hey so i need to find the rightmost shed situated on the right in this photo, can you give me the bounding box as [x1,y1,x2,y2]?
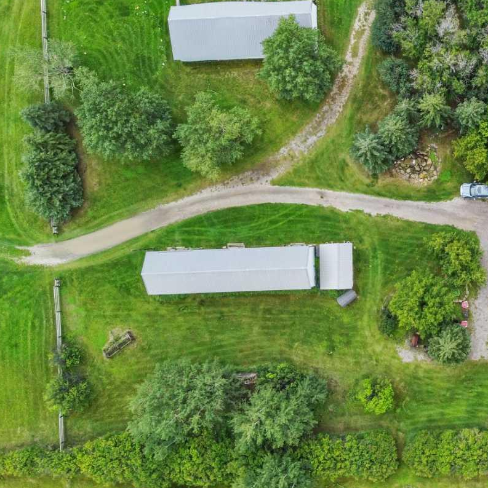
[319,241,356,290]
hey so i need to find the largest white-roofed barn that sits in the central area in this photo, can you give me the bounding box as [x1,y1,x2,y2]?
[141,242,317,294]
